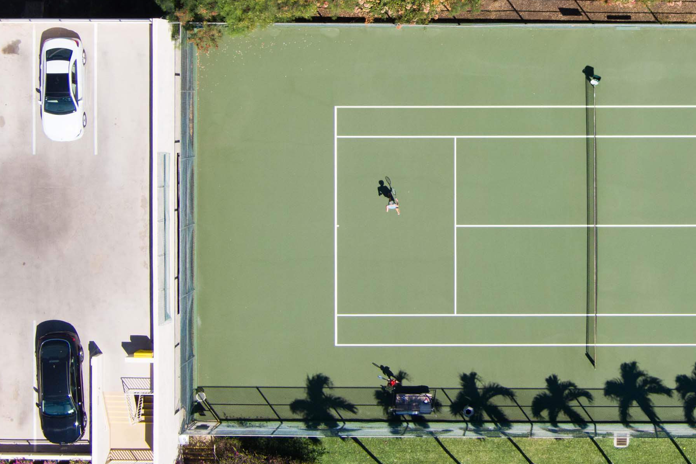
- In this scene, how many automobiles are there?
two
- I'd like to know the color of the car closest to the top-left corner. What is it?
white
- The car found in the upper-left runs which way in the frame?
from top to bottom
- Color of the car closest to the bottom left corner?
black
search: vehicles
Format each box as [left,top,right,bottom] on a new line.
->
[30,33,85,141]
[29,328,84,441]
